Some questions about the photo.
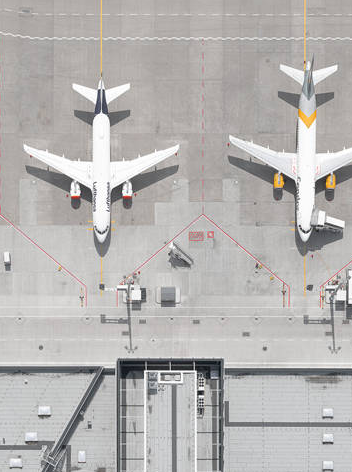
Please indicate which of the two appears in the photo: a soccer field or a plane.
plane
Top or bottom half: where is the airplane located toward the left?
top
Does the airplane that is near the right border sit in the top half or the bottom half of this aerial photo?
top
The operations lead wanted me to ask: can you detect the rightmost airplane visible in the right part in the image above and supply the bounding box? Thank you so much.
[229,55,352,242]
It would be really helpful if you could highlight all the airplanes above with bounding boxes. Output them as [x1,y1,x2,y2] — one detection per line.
[23,71,180,242]
[229,55,352,242]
